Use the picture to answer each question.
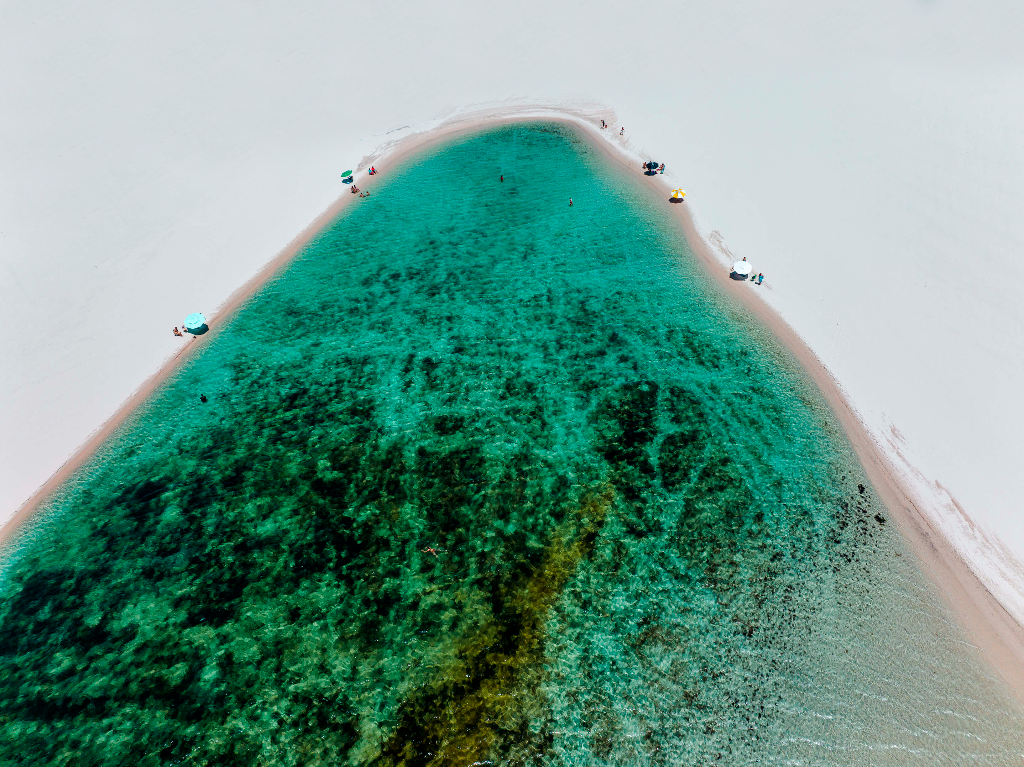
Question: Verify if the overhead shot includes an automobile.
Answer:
No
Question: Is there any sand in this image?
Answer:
Yes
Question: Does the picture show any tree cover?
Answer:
No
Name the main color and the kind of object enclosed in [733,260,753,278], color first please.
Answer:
white umbrella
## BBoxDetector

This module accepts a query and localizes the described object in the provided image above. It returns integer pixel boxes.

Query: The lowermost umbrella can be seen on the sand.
[183,313,207,332]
